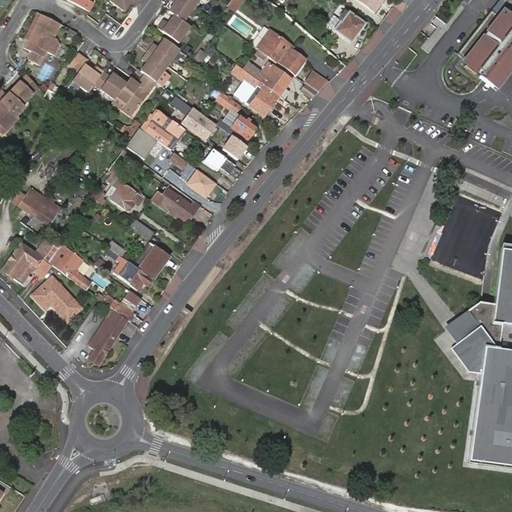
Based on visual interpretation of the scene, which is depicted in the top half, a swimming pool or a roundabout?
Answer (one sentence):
The one visible in the top half is a swimming pool.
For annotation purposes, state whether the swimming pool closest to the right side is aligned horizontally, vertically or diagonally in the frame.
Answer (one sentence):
I'd say the swimming pool closest to the right side is aligned diagonally in the picture.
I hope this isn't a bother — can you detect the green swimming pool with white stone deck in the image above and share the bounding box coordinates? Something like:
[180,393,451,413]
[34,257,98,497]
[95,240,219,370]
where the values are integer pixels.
[228,14,254,38]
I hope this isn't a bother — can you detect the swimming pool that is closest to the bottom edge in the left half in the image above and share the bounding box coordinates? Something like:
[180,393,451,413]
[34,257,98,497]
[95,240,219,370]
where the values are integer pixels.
[90,273,110,291]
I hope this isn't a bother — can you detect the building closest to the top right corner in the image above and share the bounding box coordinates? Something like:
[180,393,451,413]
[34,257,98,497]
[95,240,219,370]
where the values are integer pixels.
[459,0,512,93]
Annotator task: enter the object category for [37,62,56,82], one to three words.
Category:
swimming pool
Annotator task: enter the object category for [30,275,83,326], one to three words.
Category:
house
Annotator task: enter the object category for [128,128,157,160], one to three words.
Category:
building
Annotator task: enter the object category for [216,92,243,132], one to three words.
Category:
house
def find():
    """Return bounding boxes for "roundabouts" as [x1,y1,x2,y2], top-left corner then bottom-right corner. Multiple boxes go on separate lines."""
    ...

[66,382,142,459]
